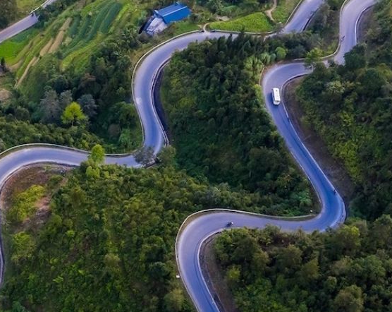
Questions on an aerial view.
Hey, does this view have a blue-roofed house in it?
Yes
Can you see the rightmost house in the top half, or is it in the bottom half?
top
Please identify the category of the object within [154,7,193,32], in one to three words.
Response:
house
